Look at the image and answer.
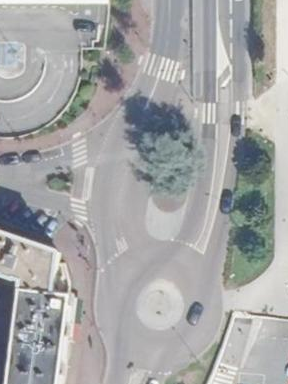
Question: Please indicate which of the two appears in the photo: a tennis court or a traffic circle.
traffic circle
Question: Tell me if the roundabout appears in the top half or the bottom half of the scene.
bottom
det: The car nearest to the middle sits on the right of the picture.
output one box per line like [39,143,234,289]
[220,190,232,212]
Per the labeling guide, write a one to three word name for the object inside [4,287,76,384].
building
